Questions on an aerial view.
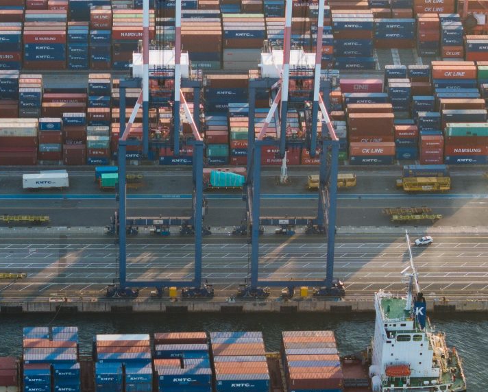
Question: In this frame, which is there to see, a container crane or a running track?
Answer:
container crane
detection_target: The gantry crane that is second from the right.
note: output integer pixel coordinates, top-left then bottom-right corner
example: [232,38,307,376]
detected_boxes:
[230,0,349,295]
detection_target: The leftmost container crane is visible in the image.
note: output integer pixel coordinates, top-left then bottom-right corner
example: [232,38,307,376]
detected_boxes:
[103,0,217,295]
